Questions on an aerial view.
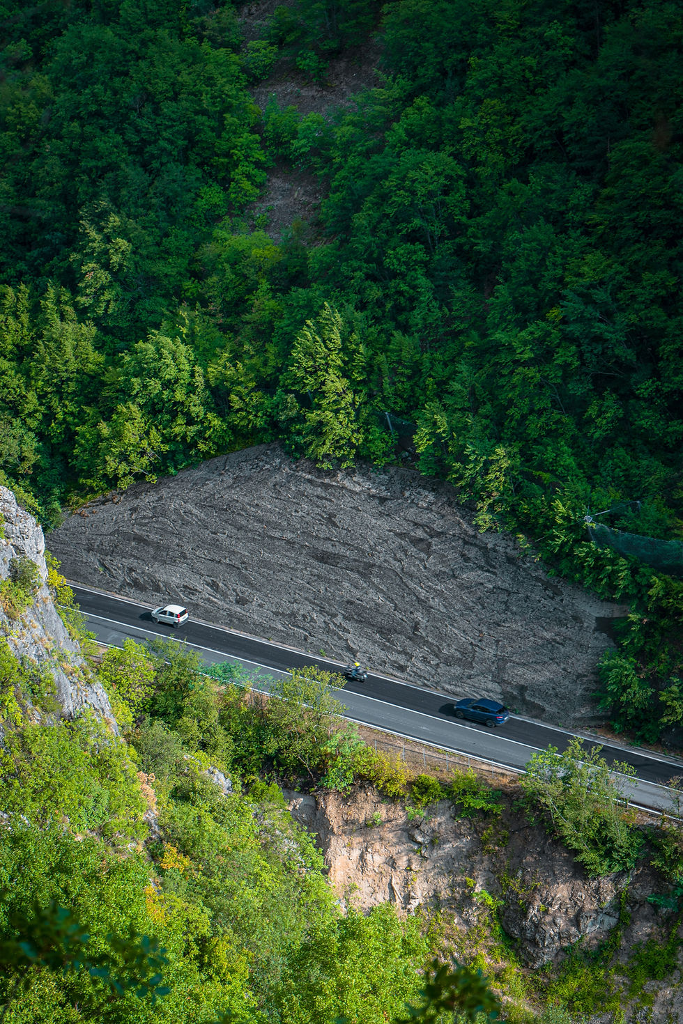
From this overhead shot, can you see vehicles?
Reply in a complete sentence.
Yes, there's a vehicle down there.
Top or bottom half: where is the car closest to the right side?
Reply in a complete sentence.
Seen from above, the car closest to the right side lies in the bottom half of the view.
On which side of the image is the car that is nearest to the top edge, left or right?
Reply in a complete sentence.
The car that is nearest to the top edge sits on the left side.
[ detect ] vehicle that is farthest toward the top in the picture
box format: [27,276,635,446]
[152,606,189,629]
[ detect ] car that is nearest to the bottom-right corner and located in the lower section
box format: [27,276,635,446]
[452,697,508,728]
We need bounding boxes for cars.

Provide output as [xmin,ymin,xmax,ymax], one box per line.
[452,697,508,728]
[152,606,189,629]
